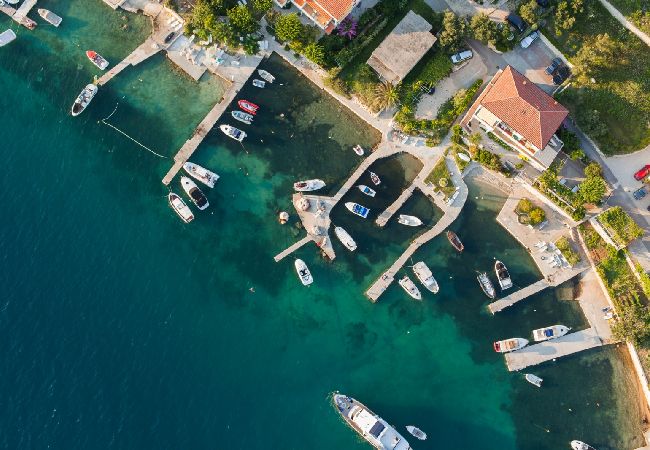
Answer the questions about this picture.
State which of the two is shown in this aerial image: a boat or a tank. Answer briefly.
boat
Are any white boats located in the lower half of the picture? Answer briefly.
Yes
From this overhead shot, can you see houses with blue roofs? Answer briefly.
No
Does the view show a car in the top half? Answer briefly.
Yes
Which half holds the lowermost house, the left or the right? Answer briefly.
right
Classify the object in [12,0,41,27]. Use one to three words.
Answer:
pier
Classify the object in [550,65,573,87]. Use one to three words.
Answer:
car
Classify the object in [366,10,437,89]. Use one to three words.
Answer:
house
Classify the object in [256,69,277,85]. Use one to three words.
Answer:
boat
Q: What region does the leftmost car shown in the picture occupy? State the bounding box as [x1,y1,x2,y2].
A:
[449,49,473,65]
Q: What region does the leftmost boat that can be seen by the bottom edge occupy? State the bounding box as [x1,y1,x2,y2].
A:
[334,394,416,450]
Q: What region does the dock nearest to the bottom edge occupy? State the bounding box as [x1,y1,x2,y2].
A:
[503,326,602,371]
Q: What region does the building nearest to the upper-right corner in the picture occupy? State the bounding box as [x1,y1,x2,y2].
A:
[461,65,569,171]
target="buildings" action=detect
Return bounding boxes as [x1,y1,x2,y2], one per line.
[265,0,361,51]
[461,65,569,171]
[366,10,437,89]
